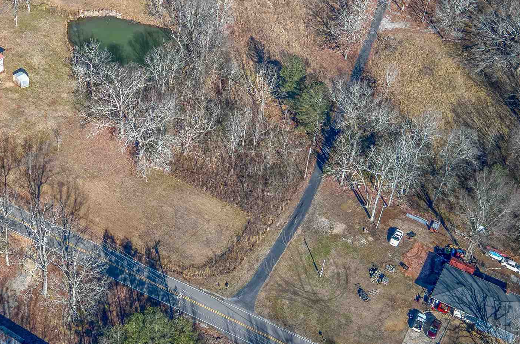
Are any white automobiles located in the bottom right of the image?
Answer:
Yes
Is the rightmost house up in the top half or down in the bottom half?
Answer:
bottom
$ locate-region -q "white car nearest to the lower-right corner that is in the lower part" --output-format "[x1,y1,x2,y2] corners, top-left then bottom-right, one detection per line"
[501,256,520,274]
